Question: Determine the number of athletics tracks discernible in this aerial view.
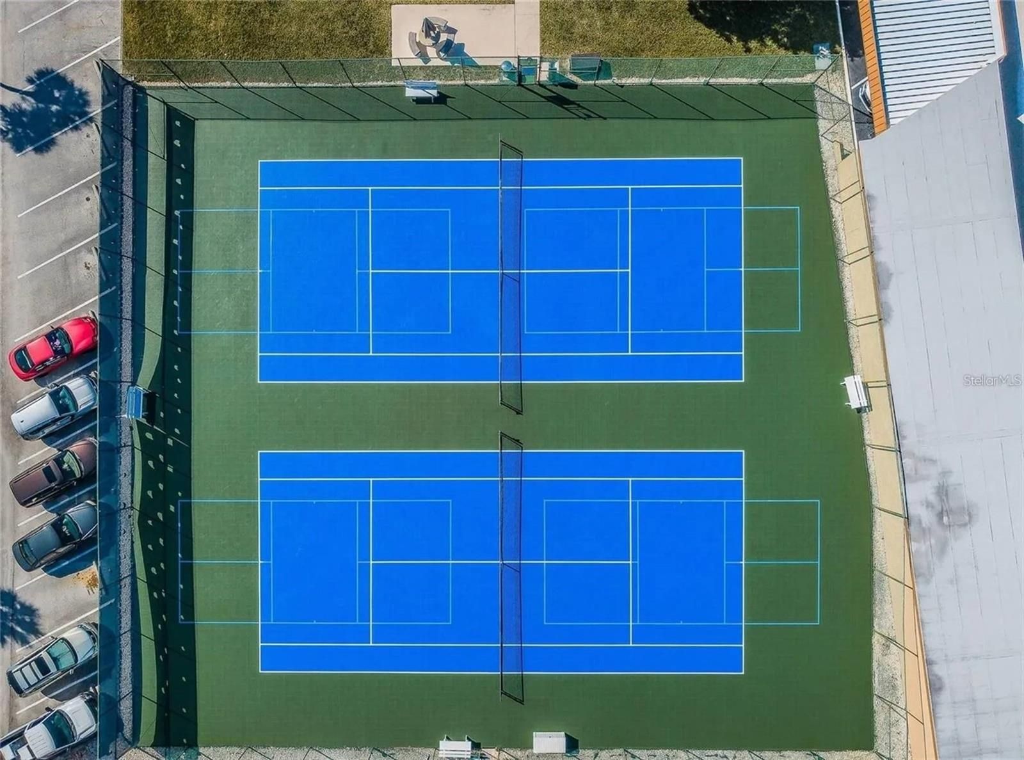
0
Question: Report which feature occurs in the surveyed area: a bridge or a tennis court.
tennis court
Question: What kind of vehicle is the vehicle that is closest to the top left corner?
car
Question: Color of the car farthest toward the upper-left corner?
red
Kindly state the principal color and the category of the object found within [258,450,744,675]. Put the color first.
blue tennis court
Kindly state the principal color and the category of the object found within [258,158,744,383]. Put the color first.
blue tennis court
